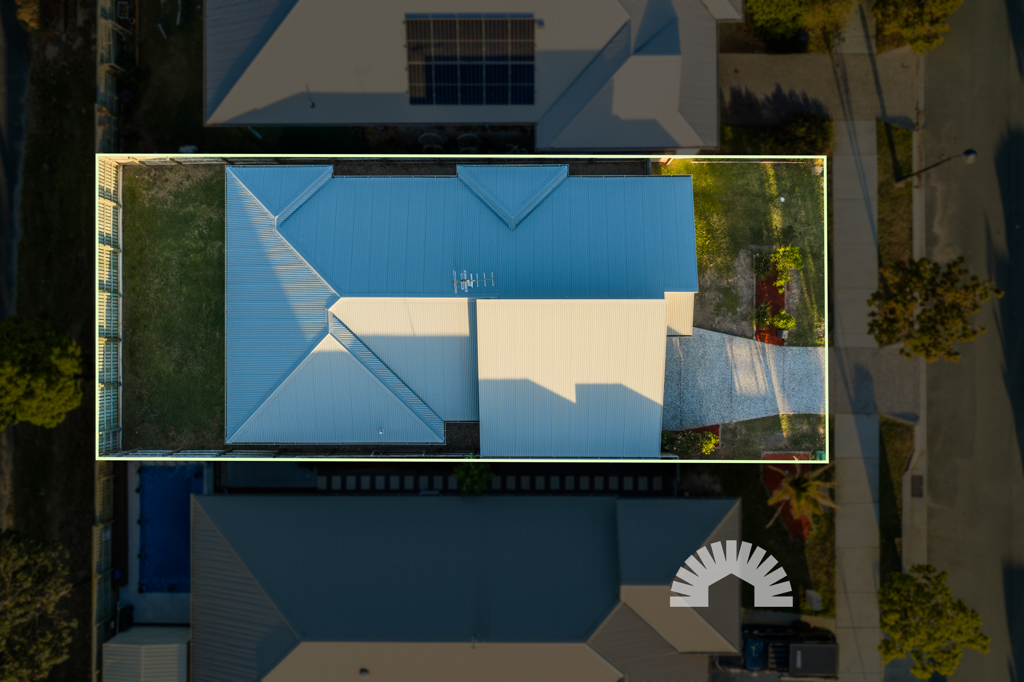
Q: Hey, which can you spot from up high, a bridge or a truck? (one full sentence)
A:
There is a truck in the scene.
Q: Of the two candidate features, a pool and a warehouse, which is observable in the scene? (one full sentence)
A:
It is a pool that can be seen here.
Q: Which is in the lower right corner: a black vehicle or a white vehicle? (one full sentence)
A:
Visible in the lower right corner is a black vehicle.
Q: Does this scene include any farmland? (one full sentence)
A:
No, the picture contains no farmland.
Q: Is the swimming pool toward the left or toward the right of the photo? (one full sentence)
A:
You can find the swimming pool on the left side of the picture.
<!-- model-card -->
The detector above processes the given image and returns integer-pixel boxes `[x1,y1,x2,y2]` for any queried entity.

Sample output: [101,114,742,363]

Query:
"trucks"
[715,623,840,677]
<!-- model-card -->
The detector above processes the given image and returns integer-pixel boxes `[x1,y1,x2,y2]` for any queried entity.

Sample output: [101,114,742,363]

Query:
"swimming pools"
[136,466,202,595]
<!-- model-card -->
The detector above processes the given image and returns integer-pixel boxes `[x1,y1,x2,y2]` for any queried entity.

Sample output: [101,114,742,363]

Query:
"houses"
[202,0,746,155]
[189,493,744,682]
[222,162,700,461]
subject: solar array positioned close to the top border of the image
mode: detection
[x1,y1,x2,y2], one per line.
[405,19,541,105]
